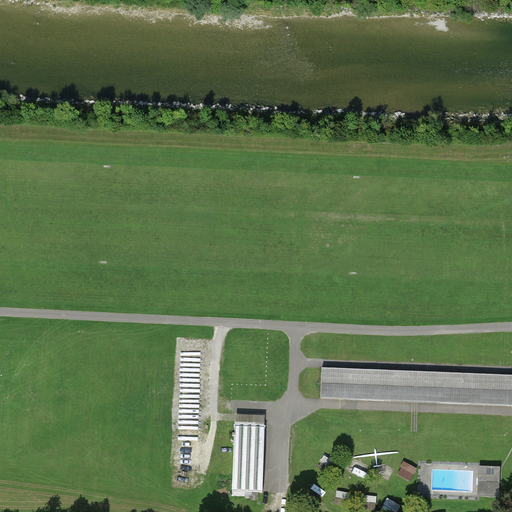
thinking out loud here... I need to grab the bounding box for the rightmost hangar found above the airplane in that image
[320,368,512,407]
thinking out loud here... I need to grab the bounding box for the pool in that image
[418,461,480,500]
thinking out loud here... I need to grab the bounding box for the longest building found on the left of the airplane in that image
[232,412,266,500]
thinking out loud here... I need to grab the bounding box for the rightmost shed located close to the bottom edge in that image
[478,466,500,498]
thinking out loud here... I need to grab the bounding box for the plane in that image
[354,449,398,468]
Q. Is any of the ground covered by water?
Yes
